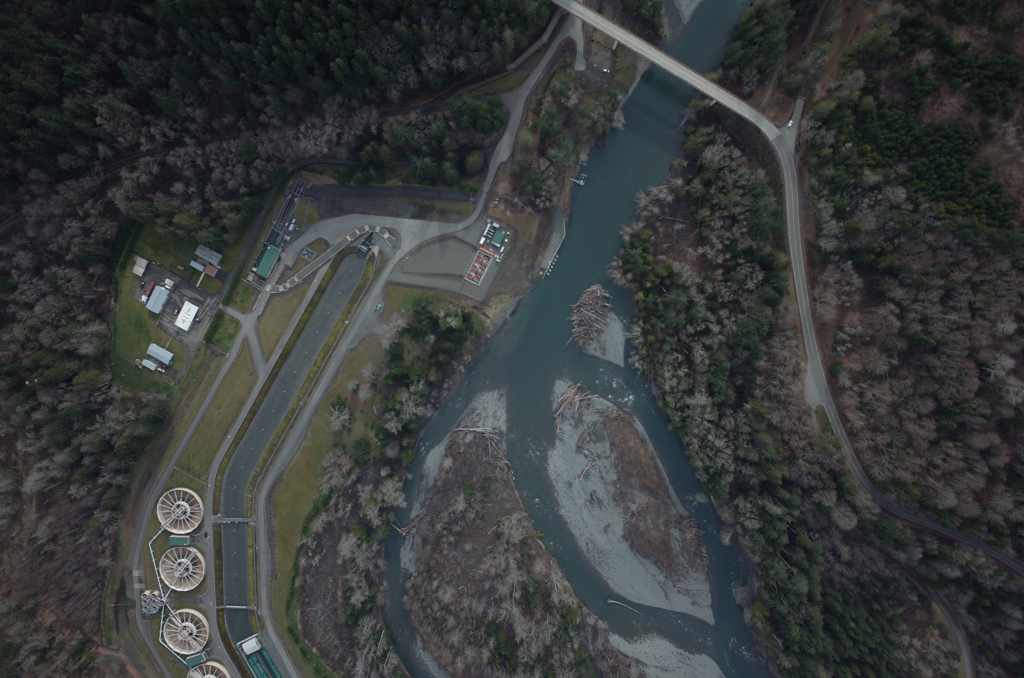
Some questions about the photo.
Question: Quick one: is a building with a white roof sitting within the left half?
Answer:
Yes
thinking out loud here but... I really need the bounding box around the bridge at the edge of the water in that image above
[550,0,759,123]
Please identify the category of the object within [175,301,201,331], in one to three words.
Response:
building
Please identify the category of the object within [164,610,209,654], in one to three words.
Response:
storage tank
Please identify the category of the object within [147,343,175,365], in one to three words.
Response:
house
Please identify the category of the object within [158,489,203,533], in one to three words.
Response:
storage tank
